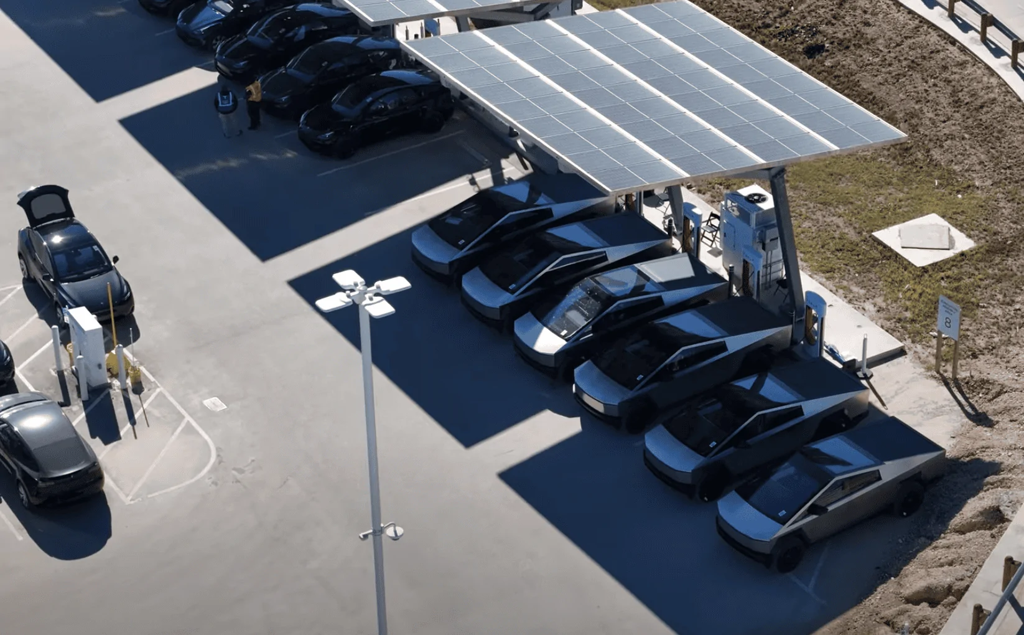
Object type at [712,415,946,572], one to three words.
truck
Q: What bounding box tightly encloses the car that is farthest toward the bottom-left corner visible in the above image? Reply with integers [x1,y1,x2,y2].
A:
[0,393,107,511]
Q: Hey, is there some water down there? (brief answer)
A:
No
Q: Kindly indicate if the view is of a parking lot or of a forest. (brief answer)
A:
parking lot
